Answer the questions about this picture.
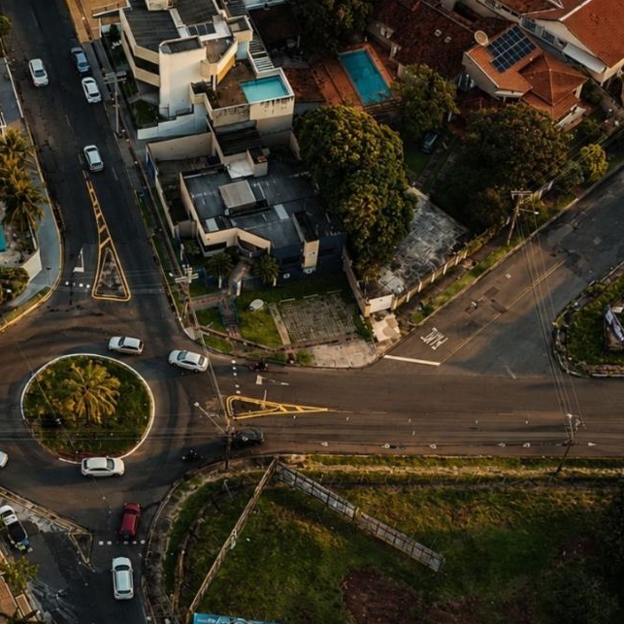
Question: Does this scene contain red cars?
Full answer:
Yes, this view includes a red car.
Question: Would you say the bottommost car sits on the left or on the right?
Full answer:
You can find the bottommost car on the left side of the picture.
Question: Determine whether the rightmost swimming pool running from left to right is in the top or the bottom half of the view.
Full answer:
The rightmost swimming pool running from left to right sits in the top half of the picture.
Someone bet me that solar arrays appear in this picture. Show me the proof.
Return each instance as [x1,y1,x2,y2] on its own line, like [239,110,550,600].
[188,24,216,35]
[487,26,536,72]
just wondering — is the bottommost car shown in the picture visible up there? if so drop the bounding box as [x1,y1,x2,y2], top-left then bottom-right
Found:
[110,559,133,601]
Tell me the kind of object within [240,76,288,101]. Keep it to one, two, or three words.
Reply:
swimming pool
